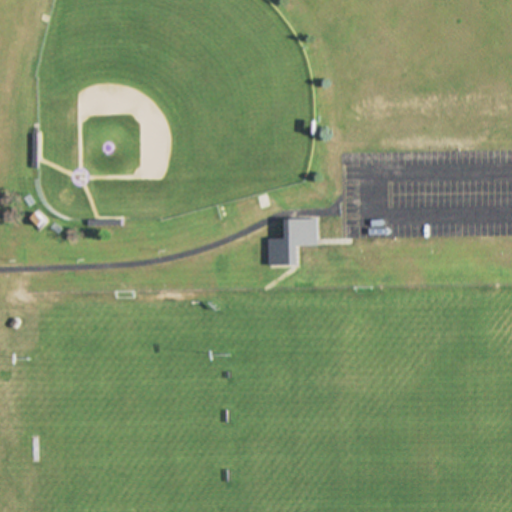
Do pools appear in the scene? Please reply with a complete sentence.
No, there's no pool here.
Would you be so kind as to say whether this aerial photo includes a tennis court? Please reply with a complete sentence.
No, the picture doesn't show any tennis court.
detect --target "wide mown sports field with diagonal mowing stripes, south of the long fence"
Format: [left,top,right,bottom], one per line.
[0,286,512,512]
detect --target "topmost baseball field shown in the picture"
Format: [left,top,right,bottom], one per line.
[38,0,316,222]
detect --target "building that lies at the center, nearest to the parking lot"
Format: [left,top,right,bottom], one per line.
[268,219,320,265]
